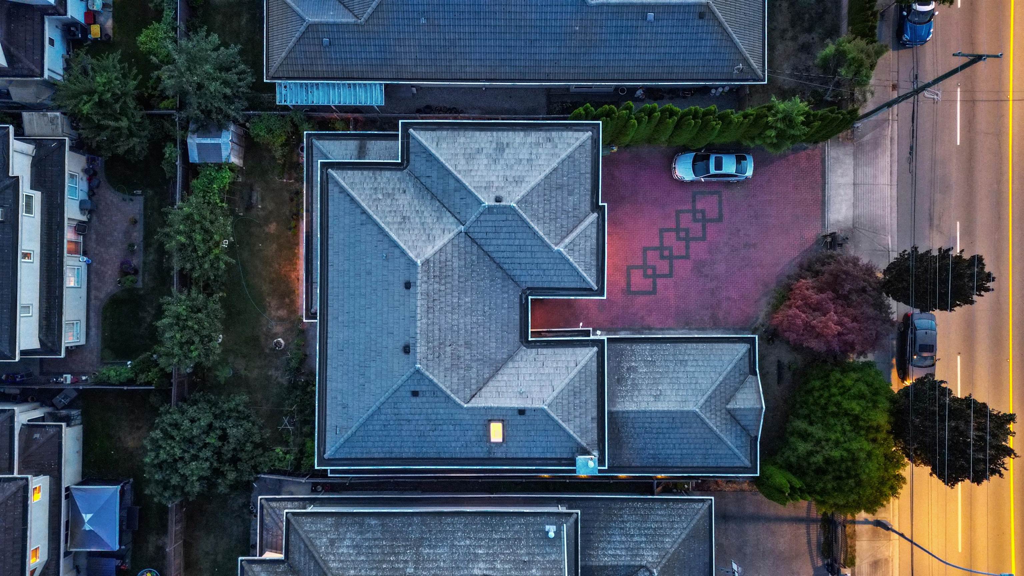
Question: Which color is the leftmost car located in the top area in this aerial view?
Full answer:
In this view, the leftmost car located in the top area is blue.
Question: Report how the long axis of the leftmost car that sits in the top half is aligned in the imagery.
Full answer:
From this overhead view, the leftmost car that sits in the top half appears to run from side to side.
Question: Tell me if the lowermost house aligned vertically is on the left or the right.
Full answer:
It is on the left.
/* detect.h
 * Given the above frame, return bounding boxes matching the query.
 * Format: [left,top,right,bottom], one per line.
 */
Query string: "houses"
[0,0,86,81]
[0,125,88,360]
[239,489,714,576]
[264,0,767,88]
[0,405,82,576]
[304,121,765,475]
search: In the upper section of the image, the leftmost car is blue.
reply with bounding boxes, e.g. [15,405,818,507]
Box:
[672,146,755,184]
